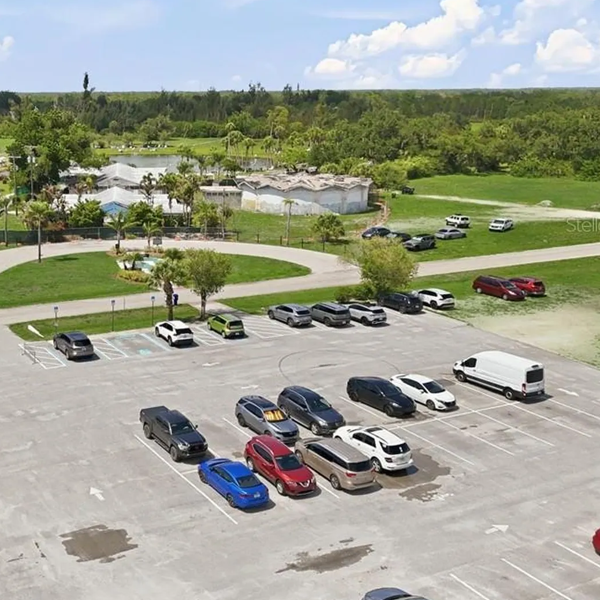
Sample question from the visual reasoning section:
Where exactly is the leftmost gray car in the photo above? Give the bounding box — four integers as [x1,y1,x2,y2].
[53,331,93,361]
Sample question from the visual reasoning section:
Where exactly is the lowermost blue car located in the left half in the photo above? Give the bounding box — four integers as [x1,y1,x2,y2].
[197,458,272,511]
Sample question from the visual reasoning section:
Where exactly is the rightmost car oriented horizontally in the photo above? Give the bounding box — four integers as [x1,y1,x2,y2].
[504,275,551,296]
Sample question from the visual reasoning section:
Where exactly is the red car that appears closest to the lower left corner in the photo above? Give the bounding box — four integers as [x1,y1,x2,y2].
[243,436,318,496]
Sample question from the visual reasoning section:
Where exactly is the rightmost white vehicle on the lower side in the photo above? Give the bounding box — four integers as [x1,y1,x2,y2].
[451,347,546,401]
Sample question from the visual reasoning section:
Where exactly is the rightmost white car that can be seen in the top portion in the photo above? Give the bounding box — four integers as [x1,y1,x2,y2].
[490,216,512,232]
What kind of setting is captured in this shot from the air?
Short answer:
parking lot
